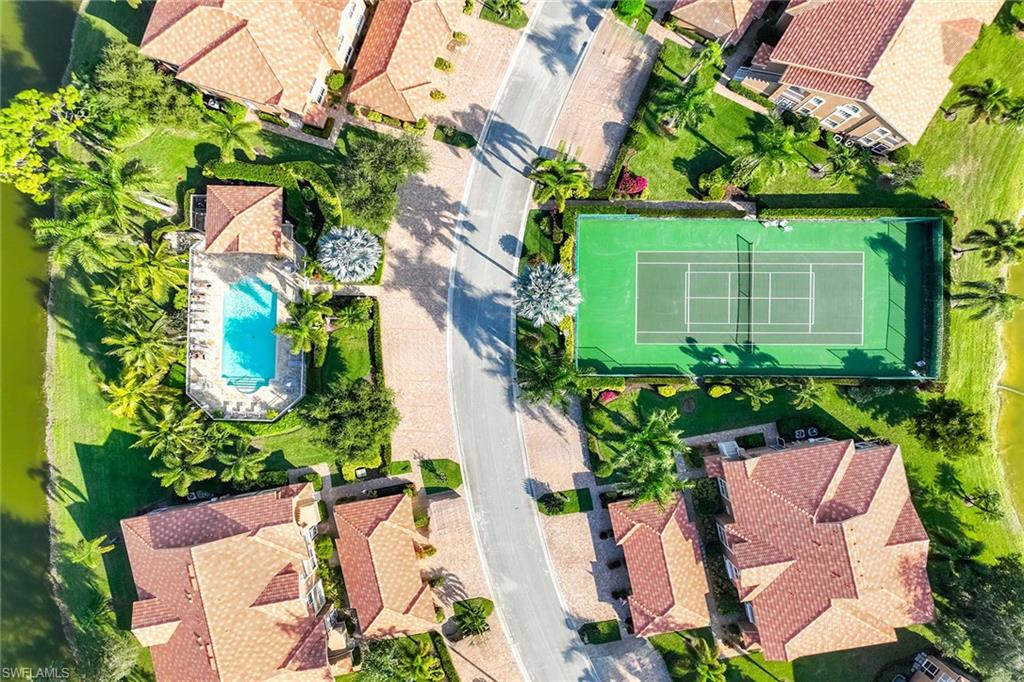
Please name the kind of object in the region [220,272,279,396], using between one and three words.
swimming pool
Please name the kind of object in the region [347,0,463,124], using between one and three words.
building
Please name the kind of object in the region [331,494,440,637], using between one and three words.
building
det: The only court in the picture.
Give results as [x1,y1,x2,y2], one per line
[574,220,923,378]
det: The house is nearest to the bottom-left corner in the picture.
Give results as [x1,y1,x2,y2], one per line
[119,477,358,682]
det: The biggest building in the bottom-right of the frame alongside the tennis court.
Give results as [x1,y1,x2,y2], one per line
[702,433,937,663]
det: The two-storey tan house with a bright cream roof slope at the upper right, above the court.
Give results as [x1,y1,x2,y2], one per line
[735,0,1005,157]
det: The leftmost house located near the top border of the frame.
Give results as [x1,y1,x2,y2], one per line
[139,0,369,126]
